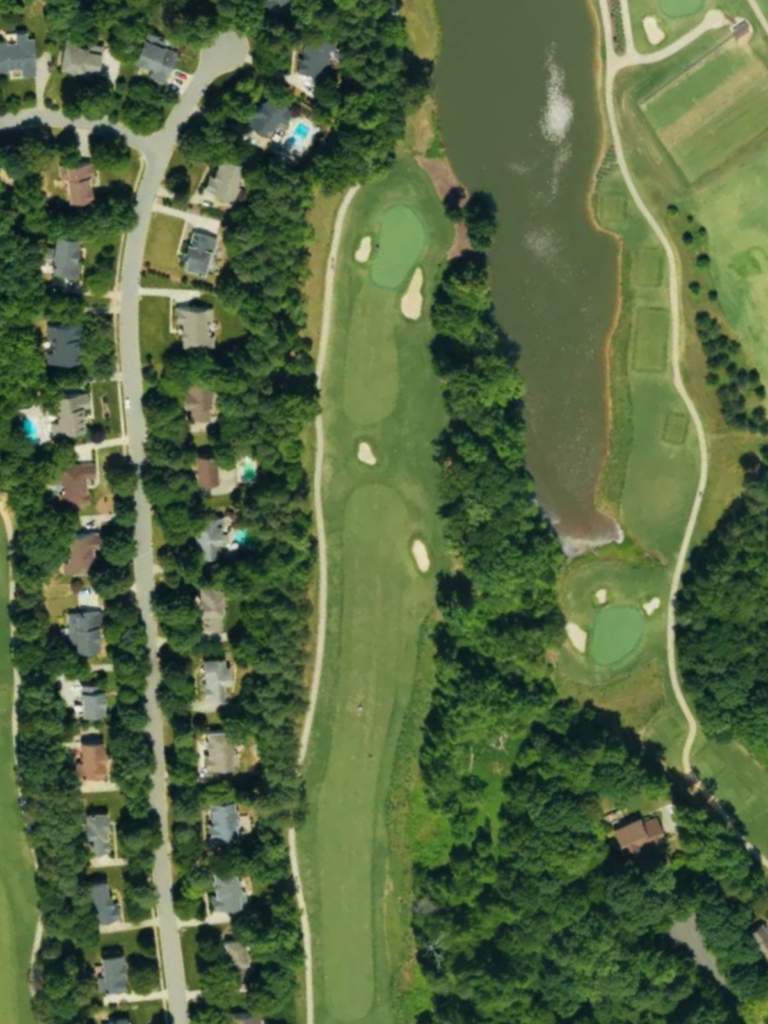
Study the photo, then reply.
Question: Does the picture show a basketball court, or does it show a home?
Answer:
home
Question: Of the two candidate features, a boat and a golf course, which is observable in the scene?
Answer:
golf course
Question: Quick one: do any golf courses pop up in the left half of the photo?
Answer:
Yes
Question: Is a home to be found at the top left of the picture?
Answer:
Yes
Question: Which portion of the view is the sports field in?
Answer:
top right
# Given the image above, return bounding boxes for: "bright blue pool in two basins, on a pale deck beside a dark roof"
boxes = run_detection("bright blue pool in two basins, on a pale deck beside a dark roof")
[288,122,310,146]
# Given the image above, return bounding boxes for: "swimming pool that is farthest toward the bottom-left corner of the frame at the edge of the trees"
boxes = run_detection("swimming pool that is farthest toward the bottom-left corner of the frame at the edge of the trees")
[233,527,252,547]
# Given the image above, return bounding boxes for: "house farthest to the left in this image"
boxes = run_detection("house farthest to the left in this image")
[0,36,35,78]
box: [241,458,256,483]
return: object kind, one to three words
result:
swimming pool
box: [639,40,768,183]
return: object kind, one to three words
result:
sports field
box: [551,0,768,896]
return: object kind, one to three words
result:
golf course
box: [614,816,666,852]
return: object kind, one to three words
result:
house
